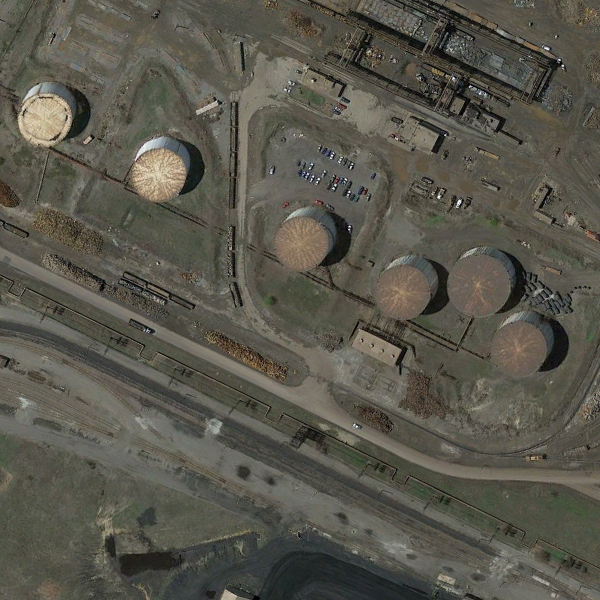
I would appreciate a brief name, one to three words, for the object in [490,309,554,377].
storage tank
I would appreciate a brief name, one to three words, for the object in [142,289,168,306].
rail car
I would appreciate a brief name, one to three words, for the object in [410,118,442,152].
building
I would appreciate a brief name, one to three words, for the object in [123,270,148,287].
rail car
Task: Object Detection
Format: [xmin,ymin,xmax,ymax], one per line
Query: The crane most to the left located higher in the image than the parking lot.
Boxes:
[336,23,370,69]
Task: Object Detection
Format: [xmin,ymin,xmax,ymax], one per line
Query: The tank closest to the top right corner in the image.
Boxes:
[446,245,516,317]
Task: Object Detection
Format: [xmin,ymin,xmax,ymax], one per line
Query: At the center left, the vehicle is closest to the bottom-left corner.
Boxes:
[128,317,155,334]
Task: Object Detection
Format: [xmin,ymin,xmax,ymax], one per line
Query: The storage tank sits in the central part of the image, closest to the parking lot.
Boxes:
[273,206,336,271]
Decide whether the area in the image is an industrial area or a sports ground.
industrial area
